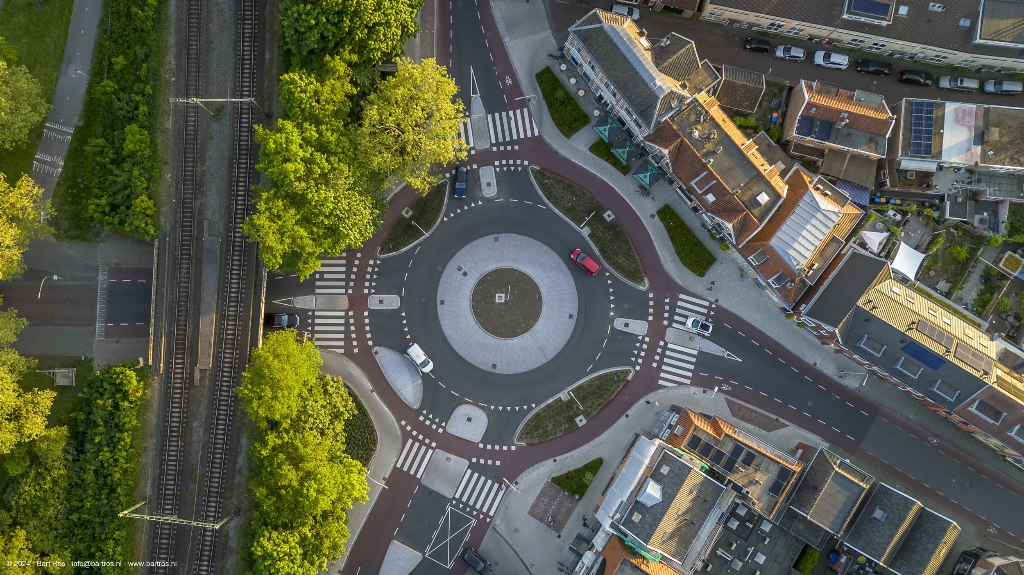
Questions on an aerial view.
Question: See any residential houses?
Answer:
Yes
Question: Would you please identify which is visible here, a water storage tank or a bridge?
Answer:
bridge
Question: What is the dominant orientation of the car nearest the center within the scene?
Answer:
diagonally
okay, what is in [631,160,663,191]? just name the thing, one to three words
umbrella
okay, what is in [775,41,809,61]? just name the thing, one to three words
car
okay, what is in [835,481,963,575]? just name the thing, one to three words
house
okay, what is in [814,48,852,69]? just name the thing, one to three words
car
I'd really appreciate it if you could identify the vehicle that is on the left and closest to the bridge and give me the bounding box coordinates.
[265,313,298,329]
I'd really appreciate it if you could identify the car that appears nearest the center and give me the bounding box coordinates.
[571,247,601,275]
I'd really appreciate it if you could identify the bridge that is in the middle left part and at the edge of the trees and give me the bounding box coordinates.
[148,220,270,386]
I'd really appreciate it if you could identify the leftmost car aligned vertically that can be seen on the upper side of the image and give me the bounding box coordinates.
[452,164,468,198]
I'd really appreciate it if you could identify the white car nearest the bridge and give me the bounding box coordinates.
[405,342,433,374]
